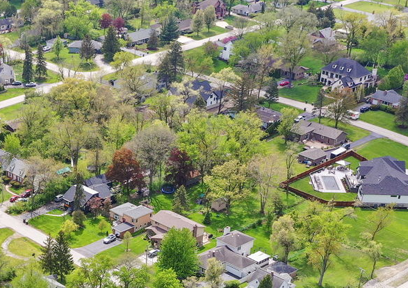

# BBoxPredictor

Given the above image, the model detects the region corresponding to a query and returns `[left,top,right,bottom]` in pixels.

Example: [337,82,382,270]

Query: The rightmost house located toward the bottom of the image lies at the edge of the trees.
[339,156,408,206]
